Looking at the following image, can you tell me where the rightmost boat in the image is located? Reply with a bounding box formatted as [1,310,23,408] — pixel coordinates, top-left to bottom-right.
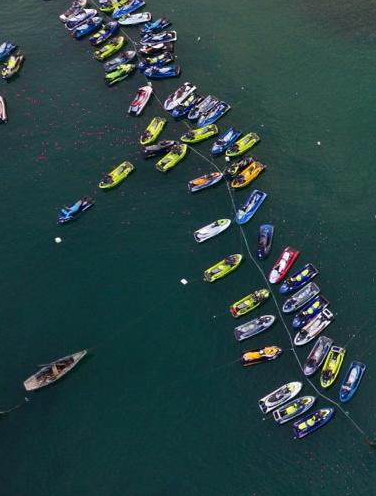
[341,360,368,403]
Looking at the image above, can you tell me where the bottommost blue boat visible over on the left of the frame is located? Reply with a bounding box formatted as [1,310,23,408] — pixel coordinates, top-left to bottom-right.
[58,196,96,225]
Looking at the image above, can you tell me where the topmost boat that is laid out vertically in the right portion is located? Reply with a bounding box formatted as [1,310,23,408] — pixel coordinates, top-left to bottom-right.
[256,224,272,262]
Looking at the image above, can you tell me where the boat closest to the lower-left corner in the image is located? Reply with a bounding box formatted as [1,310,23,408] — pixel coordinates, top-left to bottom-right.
[24,350,88,392]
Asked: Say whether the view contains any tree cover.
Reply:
No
